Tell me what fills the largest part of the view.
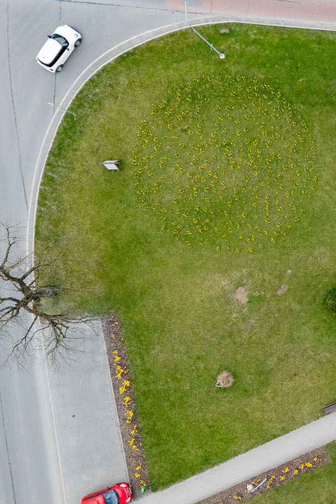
grass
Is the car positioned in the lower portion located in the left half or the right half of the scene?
left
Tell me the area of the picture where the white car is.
top left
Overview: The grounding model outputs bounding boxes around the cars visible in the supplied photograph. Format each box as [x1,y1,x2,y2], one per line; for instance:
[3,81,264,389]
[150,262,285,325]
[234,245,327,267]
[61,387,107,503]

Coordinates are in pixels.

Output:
[37,26,81,75]
[78,480,137,504]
